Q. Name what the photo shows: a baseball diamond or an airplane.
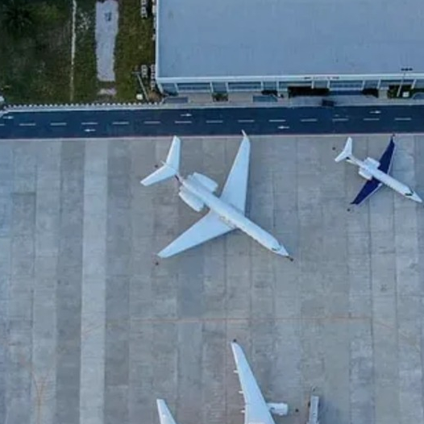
airplane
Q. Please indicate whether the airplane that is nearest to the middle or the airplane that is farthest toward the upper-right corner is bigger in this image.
the airplane that is nearest to the middle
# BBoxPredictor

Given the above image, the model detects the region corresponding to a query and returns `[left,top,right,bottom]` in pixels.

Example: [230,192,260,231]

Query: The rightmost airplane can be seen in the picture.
[335,138,422,204]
